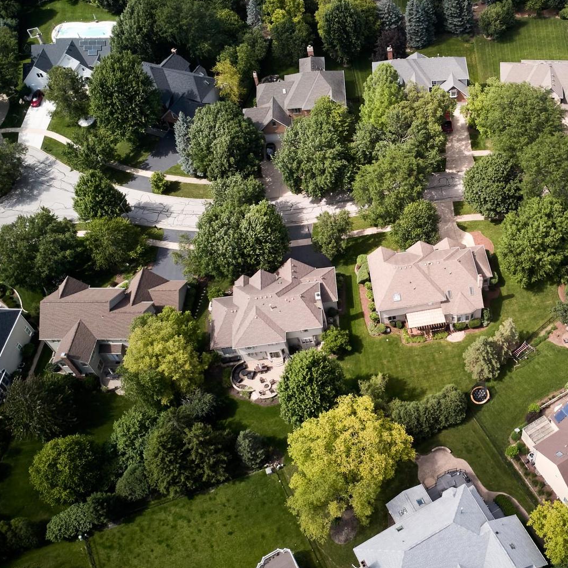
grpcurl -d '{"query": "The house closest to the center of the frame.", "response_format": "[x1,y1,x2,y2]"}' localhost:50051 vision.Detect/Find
[210,248,338,366]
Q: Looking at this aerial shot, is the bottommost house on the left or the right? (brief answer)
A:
right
